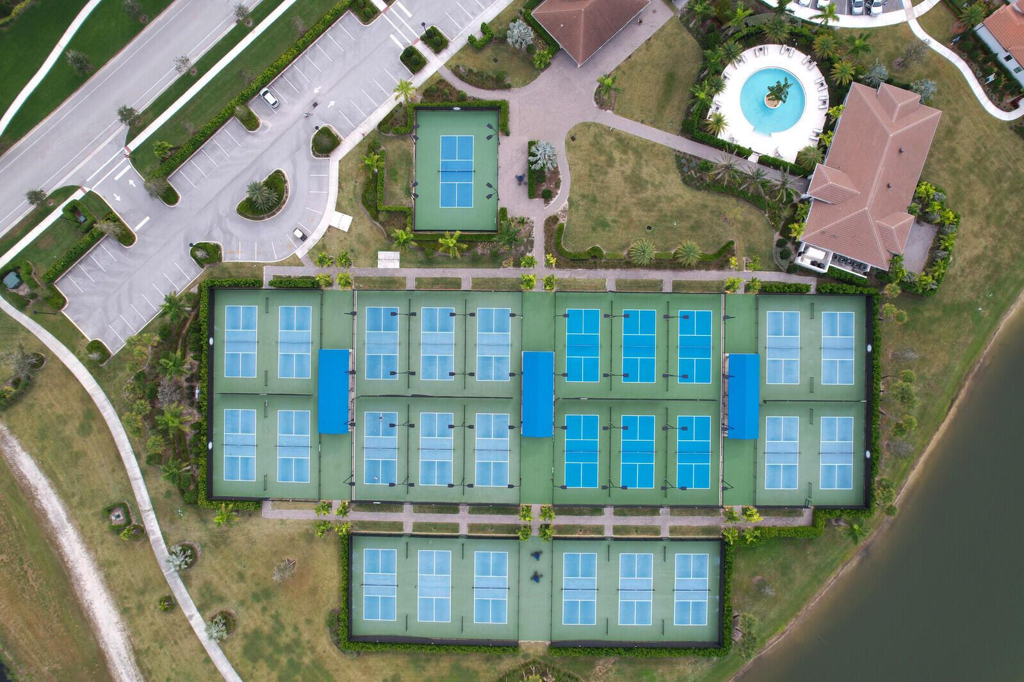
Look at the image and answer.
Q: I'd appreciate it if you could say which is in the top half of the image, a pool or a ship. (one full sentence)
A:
Looking in the top half of the image, you will find a pool.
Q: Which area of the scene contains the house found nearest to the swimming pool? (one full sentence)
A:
The house found nearest to the swimming pool is in the top right part of the image.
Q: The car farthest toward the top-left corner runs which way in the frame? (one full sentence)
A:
In this picture, the car farthest toward the top-left corner is oriented diagonally.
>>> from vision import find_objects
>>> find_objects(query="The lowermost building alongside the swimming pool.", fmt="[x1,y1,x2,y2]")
[796,82,942,271]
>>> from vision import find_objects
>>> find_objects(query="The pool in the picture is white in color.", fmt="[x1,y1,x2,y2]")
[707,44,829,162]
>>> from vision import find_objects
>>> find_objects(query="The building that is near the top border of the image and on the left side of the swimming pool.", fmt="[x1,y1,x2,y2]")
[531,0,649,69]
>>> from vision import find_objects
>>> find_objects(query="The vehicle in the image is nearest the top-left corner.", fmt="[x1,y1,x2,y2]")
[258,87,282,111]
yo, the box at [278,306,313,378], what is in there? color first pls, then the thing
blue sports court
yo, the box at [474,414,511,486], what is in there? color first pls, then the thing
blue sports court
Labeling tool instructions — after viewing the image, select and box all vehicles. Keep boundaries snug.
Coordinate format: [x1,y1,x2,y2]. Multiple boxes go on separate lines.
[258,87,282,111]
[815,0,829,10]
[293,229,308,242]
[850,0,864,16]
[869,0,882,16]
